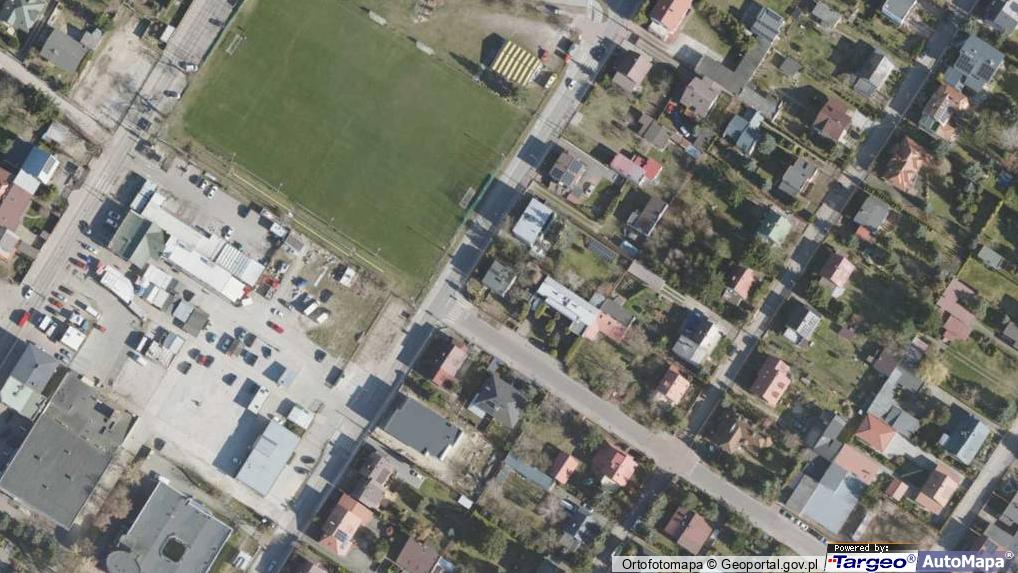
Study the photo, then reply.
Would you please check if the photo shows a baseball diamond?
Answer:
No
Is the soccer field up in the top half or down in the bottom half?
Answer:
top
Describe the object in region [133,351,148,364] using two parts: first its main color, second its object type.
white vehicle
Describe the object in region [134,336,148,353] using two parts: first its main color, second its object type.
white vehicle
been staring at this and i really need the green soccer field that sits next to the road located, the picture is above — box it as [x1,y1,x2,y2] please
[182,0,528,293]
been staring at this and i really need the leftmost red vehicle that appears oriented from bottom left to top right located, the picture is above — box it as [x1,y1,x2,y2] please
[18,311,31,326]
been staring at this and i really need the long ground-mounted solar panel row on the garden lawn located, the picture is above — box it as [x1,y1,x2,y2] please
[586,238,616,262]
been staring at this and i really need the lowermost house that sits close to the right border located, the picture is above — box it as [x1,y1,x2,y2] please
[966,526,1005,565]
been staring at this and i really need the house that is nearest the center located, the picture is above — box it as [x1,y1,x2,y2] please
[480,260,525,297]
